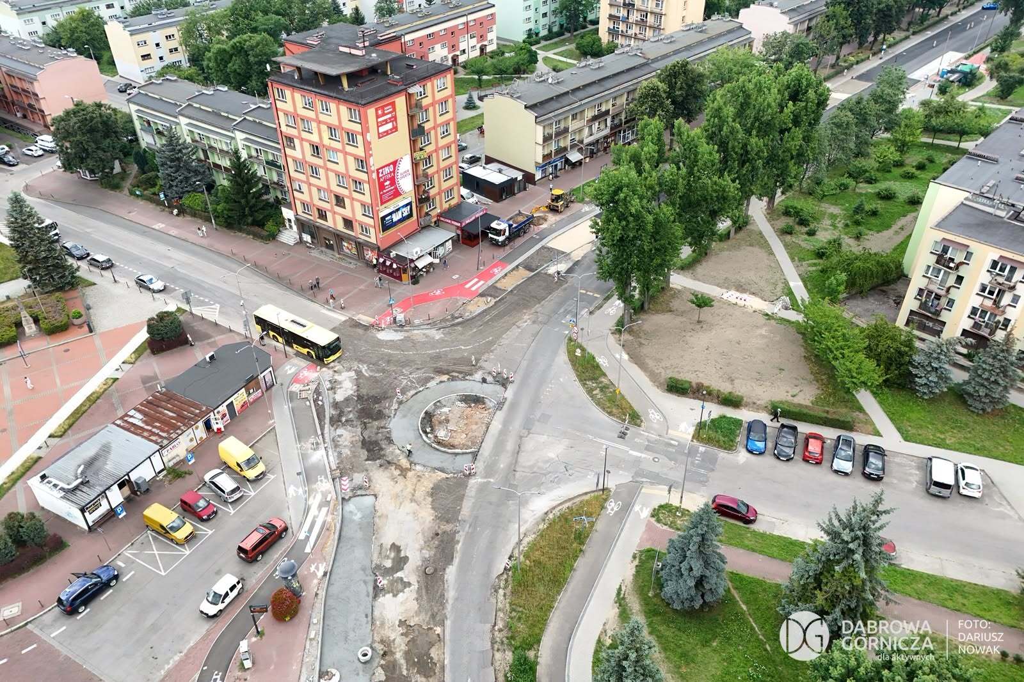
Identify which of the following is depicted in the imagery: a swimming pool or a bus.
bus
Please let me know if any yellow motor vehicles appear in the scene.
Yes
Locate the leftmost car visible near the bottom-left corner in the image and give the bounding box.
[55,562,120,615]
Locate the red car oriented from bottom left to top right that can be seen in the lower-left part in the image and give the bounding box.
[235,515,289,564]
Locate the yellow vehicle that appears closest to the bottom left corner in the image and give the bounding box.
[140,503,192,543]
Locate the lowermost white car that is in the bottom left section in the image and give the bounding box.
[200,570,244,617]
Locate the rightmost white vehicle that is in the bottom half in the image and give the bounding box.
[960,462,987,499]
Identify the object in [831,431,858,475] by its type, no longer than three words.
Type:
car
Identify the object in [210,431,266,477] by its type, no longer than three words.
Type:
van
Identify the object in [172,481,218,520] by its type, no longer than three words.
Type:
car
